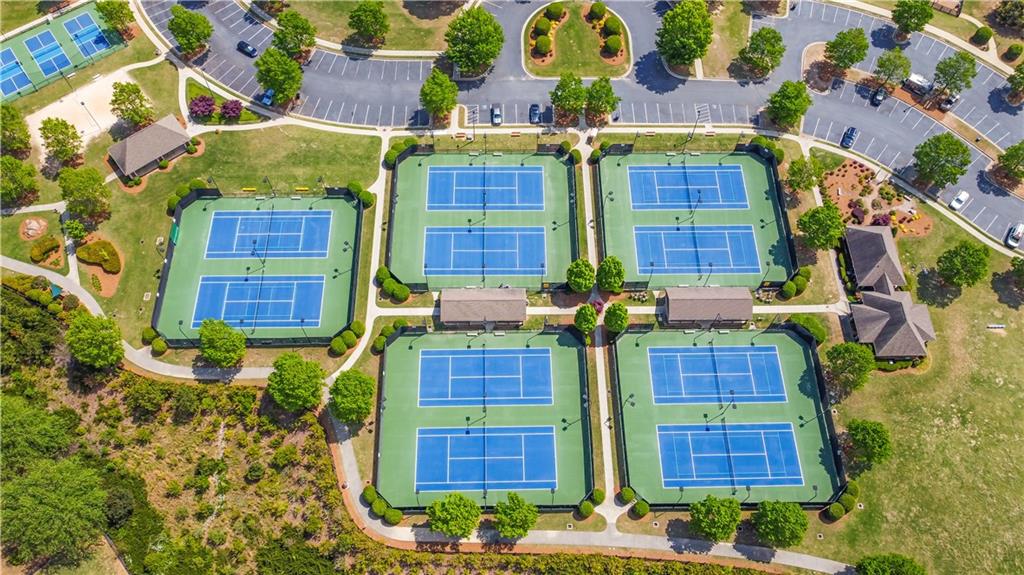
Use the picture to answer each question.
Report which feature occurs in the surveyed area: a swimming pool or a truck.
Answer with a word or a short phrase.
truck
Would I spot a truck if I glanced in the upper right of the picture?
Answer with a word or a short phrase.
Yes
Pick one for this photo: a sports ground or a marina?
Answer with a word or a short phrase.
sports ground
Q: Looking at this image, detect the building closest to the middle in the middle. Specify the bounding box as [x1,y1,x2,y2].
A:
[441,288,527,328]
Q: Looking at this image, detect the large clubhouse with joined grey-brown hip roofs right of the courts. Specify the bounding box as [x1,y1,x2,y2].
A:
[843,226,936,365]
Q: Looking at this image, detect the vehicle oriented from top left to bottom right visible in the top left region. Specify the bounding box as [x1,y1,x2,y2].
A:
[237,40,257,55]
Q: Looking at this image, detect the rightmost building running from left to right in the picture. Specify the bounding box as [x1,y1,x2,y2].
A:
[663,287,754,327]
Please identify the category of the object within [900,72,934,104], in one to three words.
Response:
truck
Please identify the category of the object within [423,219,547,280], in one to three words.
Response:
tennis court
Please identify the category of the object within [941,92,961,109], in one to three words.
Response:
car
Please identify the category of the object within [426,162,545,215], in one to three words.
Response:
tennis court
